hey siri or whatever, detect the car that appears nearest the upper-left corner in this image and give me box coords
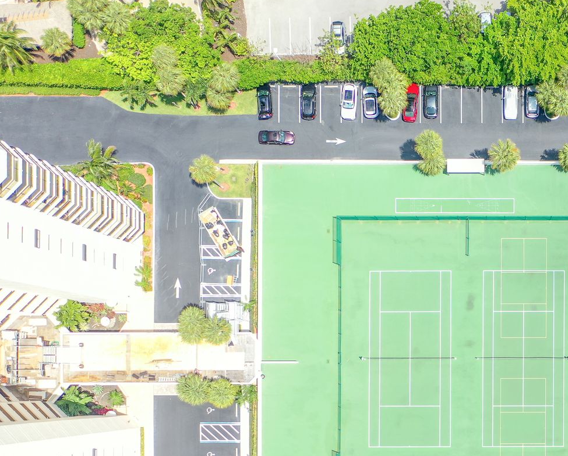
[255,86,273,120]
